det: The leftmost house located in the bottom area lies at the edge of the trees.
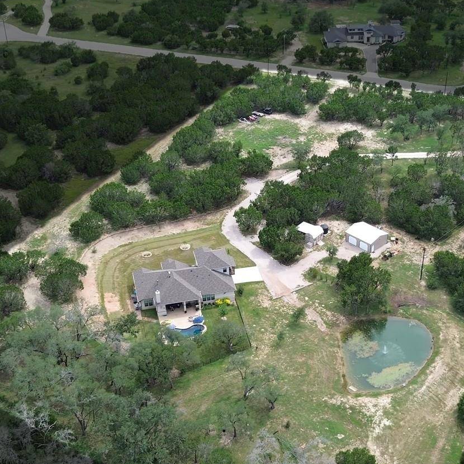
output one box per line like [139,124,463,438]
[134,245,237,316]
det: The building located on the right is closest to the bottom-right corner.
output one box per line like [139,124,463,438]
[345,219,388,253]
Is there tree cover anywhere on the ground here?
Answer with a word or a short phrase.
Yes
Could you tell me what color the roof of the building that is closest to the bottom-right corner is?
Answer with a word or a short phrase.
white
